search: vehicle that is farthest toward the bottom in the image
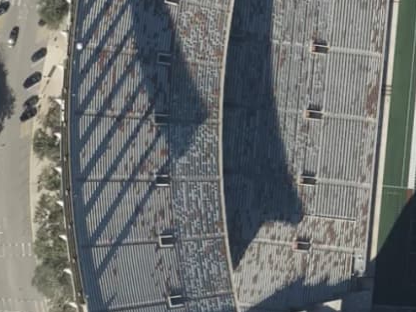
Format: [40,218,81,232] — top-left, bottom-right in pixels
[20,107,36,122]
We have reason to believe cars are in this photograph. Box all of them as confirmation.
[31,47,47,62]
[25,93,40,108]
[9,26,18,44]
[25,72,40,86]
[20,107,36,122]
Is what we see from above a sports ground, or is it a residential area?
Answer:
sports ground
